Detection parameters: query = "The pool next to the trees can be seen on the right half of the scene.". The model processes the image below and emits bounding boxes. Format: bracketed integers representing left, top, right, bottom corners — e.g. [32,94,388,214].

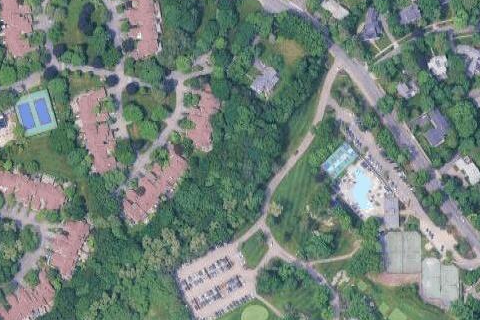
[340,160,386,221]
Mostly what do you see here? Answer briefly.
trees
